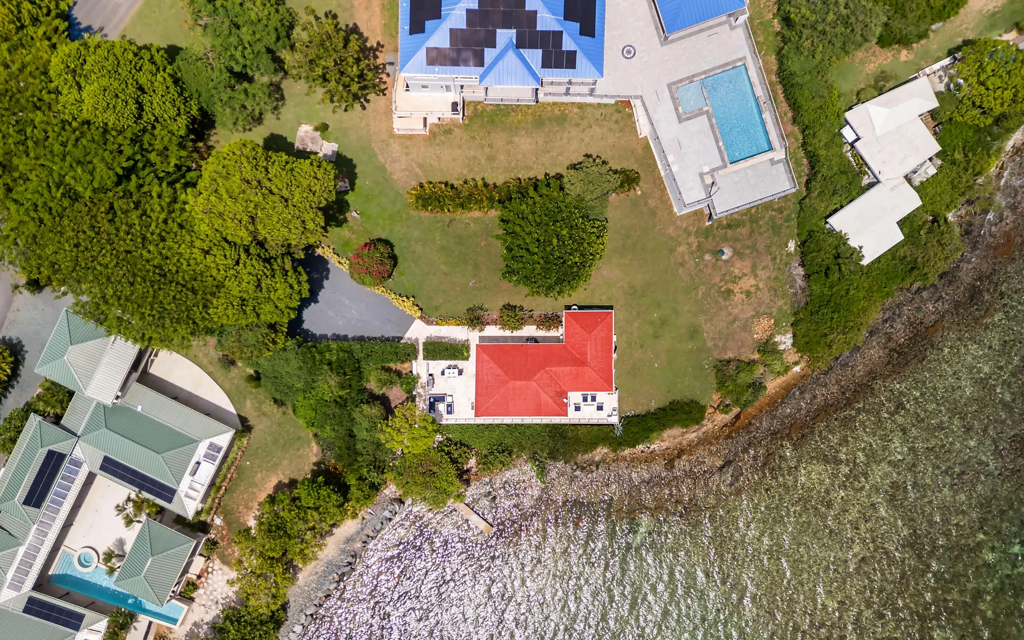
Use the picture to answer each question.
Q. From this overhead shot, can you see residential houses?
Yes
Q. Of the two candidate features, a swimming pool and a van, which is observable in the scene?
swimming pool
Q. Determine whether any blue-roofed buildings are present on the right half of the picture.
Yes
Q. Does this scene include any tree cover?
Yes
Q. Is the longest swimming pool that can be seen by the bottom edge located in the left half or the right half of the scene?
left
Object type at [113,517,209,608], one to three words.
building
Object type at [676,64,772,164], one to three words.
swimming pool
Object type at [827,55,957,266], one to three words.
house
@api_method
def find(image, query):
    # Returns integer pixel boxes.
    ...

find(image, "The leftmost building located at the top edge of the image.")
[391,0,603,133]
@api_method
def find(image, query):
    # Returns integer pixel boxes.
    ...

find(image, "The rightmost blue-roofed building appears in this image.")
[653,0,748,44]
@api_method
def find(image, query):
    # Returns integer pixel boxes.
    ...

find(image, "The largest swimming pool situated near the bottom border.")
[43,545,189,630]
